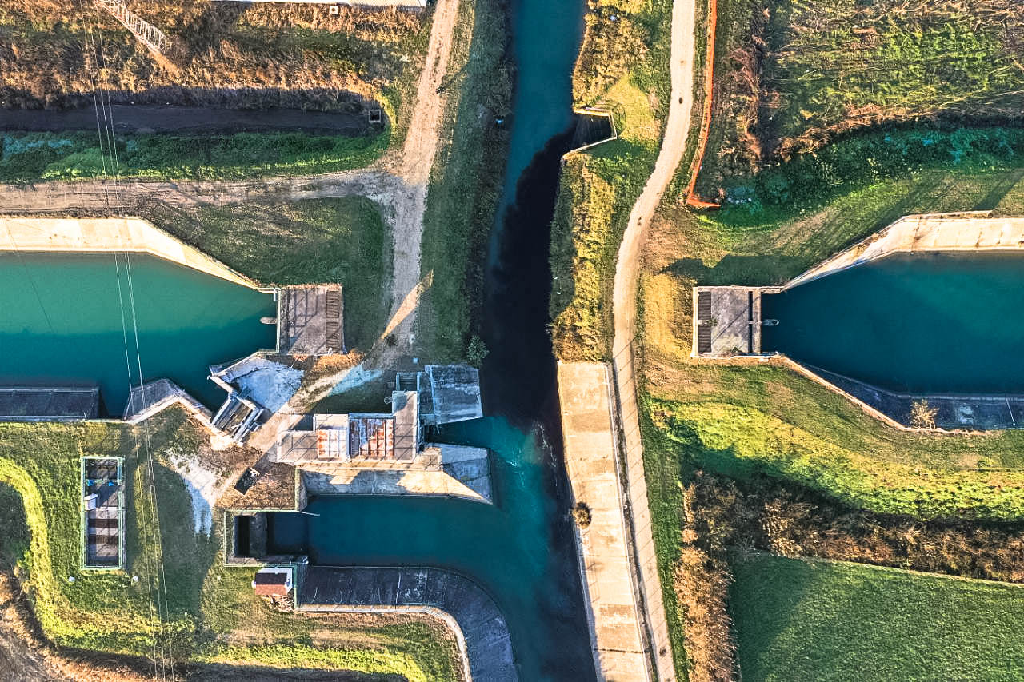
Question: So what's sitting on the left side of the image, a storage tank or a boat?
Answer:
storage tank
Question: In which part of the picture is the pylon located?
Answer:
top left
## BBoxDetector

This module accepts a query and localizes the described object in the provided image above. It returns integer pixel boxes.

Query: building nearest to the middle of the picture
[271,390,449,473]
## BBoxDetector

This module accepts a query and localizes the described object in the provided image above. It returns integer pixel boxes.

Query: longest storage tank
[76,457,125,572]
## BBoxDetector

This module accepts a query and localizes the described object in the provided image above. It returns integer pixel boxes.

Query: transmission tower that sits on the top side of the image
[99,0,174,53]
